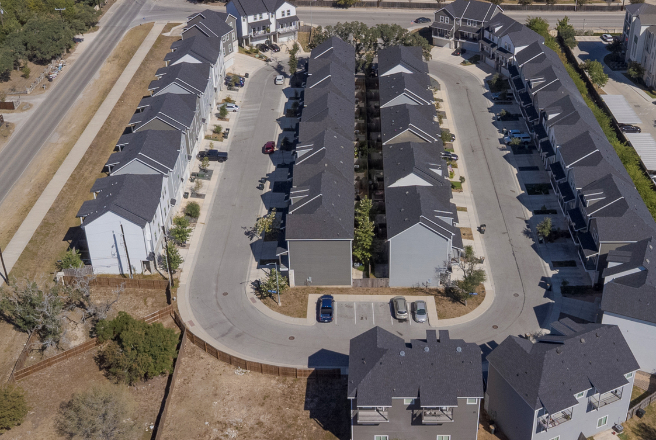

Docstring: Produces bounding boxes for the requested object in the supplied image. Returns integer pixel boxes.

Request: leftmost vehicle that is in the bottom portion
[318,294,334,322]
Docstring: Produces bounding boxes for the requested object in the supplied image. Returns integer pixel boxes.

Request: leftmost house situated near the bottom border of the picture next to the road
[344,324,482,440]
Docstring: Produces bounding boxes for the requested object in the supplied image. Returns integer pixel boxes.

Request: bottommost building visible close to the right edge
[480,317,641,440]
